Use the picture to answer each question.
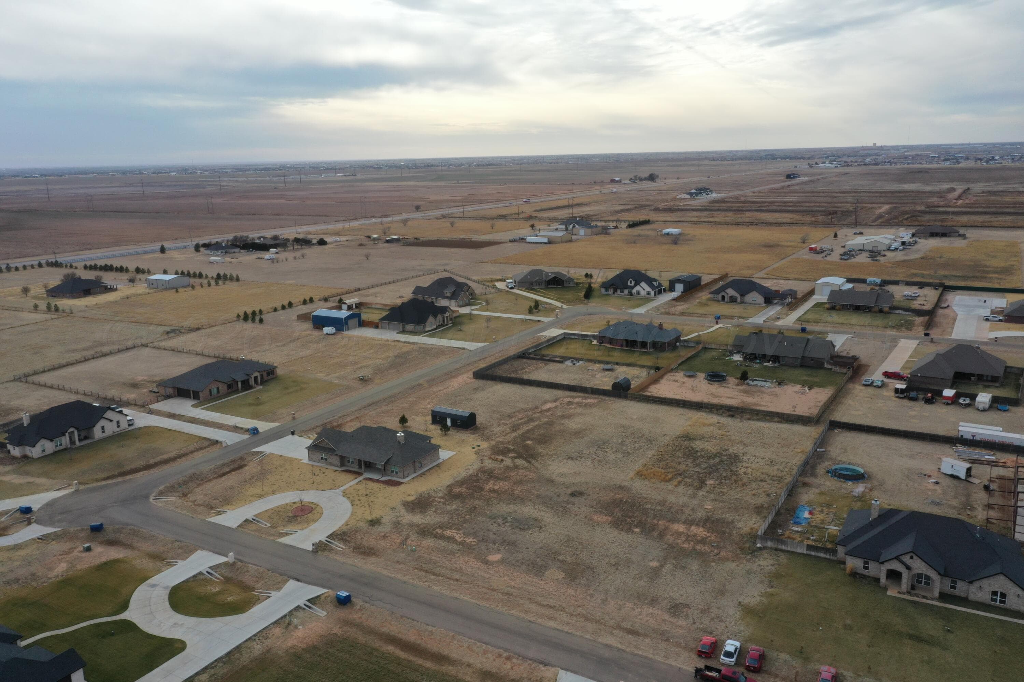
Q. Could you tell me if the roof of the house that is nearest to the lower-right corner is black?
Yes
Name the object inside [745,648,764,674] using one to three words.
car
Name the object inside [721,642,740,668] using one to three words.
car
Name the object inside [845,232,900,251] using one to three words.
building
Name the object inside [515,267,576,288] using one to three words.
house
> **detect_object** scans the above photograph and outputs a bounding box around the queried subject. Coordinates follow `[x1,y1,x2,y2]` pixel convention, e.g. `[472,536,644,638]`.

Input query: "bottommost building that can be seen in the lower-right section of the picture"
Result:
[830,490,1024,612]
